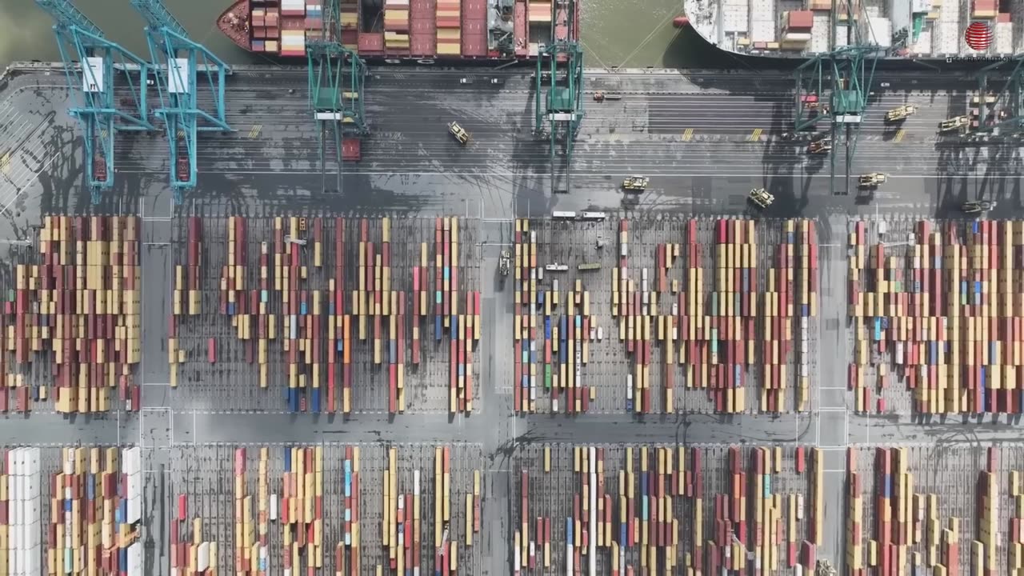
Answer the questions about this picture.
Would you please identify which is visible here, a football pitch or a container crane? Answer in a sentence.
Looking from above, you can make out a container crane.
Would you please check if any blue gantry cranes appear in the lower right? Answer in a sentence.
No, the scene shows no blue gantry crane in the lower right.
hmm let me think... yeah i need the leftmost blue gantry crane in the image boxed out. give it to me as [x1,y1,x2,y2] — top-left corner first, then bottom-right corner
[41,0,159,199]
